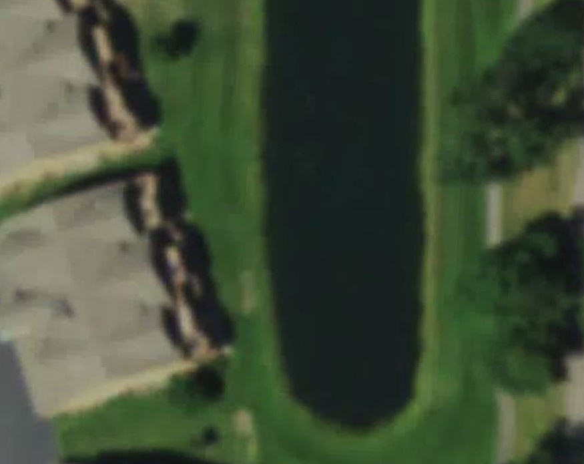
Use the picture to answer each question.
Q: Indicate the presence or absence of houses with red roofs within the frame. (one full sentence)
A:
No, no house with a red roof is visible in the view.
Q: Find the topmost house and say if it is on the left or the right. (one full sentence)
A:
It is on the left.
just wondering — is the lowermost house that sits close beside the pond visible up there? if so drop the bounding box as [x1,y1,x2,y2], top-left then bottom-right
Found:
[0,169,209,420]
